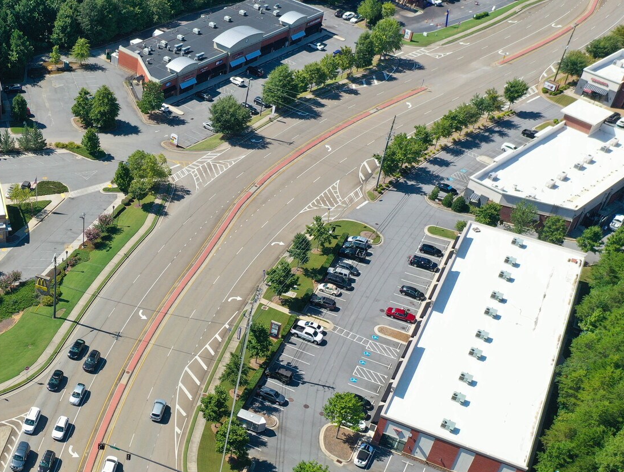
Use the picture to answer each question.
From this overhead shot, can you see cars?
Yes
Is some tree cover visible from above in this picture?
Yes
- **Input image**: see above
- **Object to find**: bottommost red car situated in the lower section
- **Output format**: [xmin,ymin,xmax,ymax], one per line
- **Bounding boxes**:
[387,309,415,323]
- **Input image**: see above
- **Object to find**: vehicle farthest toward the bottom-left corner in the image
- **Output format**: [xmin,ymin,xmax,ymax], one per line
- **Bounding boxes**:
[13,442,30,470]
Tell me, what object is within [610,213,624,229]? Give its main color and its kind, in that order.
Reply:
white vehicle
